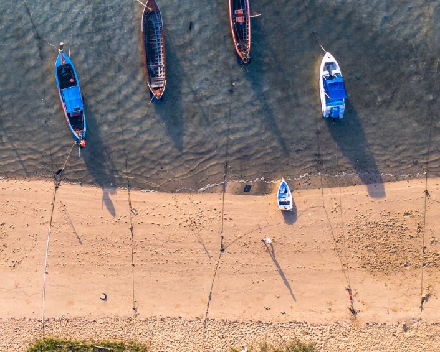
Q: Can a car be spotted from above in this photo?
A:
No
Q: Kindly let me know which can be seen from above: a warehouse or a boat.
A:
boat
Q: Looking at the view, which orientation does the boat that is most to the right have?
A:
from top to bottom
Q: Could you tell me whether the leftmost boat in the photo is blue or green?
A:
blue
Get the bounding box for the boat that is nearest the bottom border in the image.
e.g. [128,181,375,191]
[275,179,292,211]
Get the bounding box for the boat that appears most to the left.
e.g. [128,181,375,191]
[55,43,88,159]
